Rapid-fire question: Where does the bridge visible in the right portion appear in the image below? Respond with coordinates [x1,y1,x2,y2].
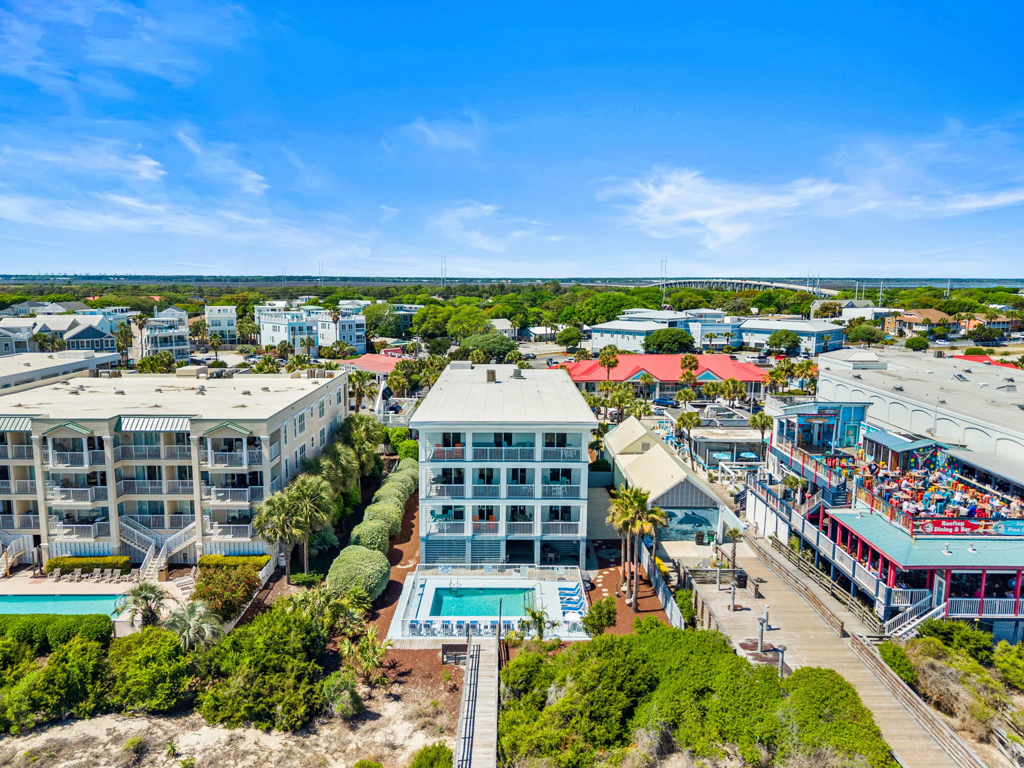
[639,279,843,294]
